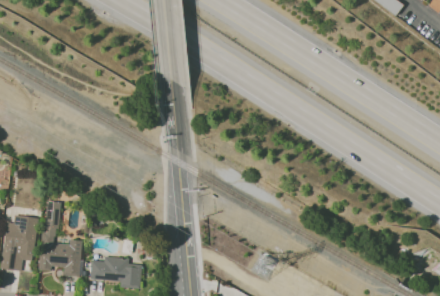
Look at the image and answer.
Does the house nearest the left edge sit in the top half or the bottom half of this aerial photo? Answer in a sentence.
The house nearest the left edge sits in the bottom half of the picture.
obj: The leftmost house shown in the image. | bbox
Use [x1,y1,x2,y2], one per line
[2,218,39,270]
